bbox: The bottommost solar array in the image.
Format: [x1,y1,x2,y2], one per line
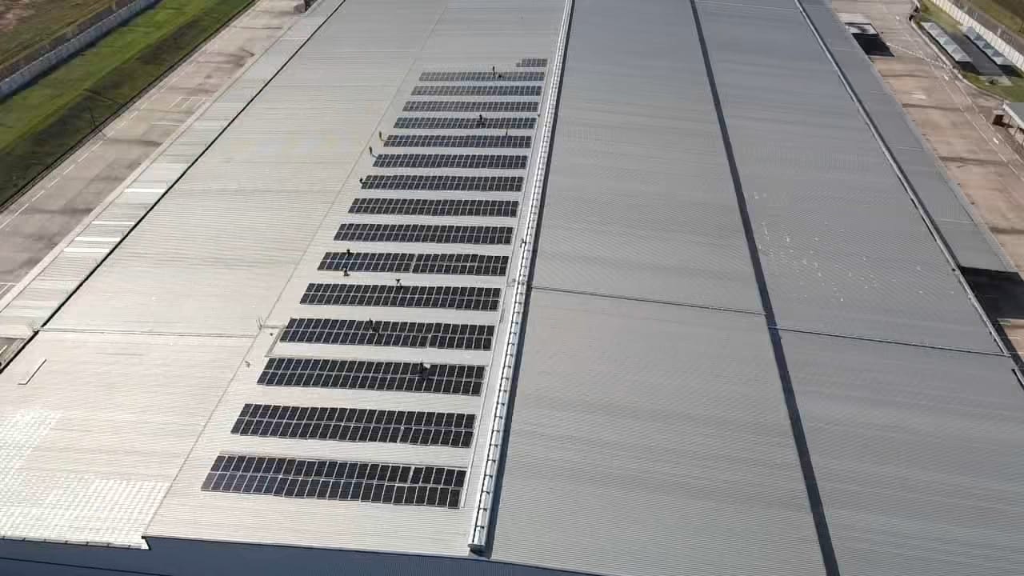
[200,456,466,507]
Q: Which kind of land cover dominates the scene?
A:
buildings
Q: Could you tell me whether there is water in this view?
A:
No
